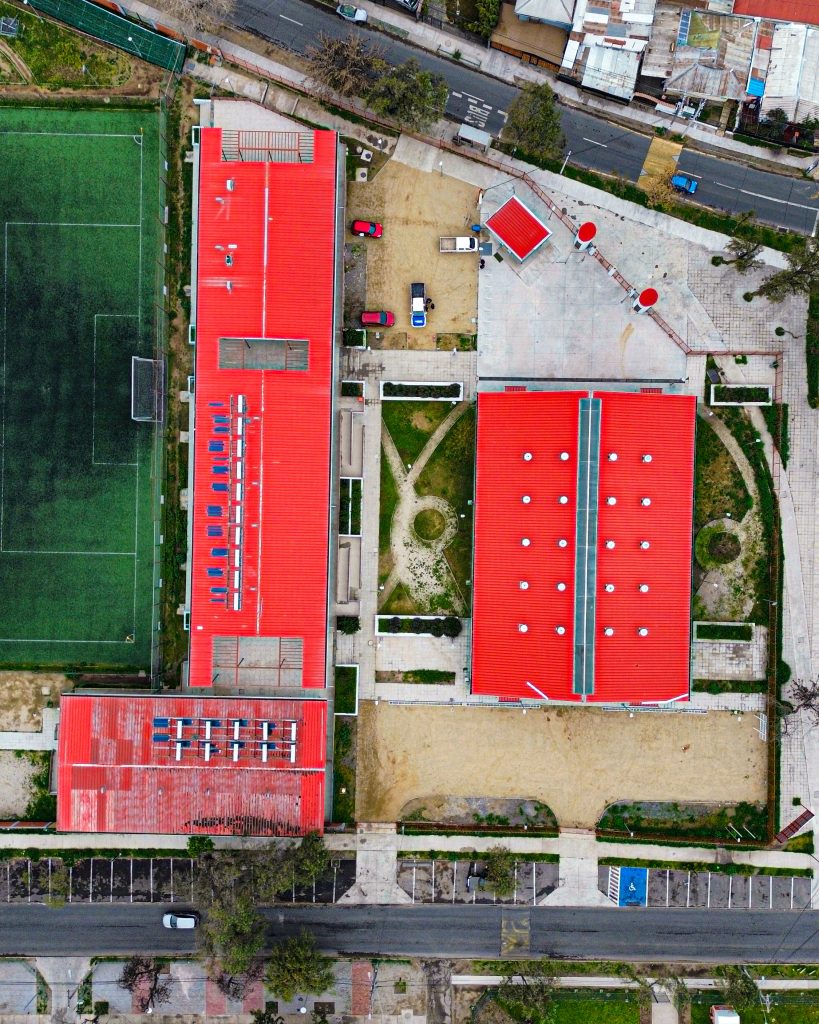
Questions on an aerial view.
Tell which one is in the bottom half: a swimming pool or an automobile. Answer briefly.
automobile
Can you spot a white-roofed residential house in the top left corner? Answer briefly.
No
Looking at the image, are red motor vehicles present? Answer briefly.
Yes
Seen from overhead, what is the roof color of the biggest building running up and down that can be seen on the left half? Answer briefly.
red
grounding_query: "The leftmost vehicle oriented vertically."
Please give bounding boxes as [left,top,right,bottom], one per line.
[410,283,427,327]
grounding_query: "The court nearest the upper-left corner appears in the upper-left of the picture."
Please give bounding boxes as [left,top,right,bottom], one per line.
[21,0,185,71]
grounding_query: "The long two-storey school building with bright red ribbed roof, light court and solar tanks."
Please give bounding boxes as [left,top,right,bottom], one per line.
[187,127,339,690]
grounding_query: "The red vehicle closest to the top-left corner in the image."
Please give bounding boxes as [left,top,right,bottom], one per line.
[351,220,383,239]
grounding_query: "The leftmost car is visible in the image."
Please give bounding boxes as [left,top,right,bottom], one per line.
[164,910,200,929]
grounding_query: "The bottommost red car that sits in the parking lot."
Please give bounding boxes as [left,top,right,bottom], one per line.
[361,309,395,327]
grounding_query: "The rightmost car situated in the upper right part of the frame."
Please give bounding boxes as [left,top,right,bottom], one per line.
[669,176,698,196]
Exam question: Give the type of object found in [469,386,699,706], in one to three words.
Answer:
building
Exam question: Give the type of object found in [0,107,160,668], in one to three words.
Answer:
soccer field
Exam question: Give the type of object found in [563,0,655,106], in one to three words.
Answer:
house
